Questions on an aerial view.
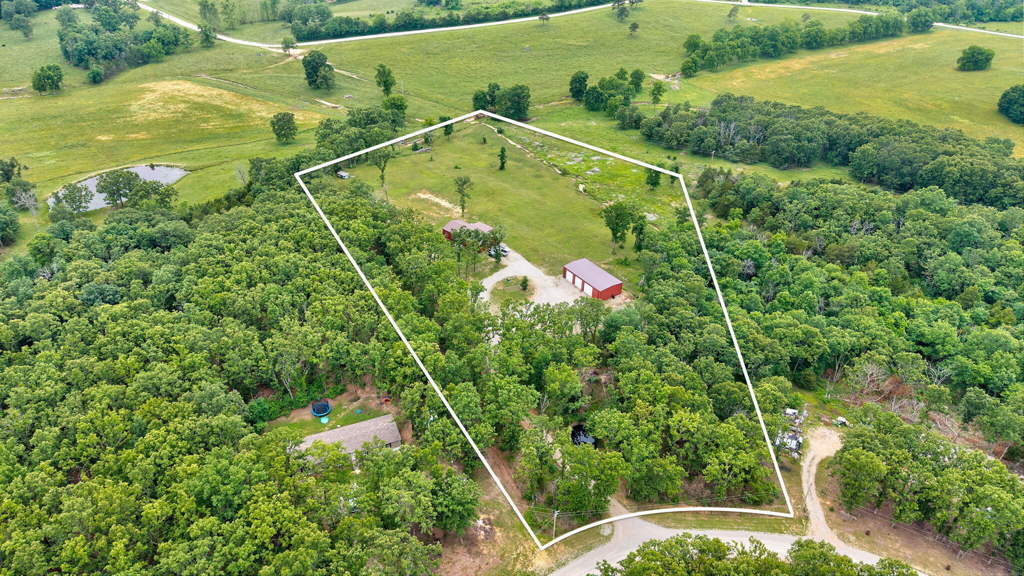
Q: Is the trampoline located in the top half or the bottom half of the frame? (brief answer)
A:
bottom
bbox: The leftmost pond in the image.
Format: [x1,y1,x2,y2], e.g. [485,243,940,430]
[46,165,190,212]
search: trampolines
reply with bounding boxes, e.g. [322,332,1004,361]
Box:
[310,395,331,415]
